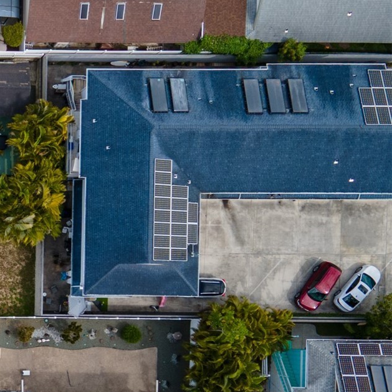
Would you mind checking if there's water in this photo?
No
